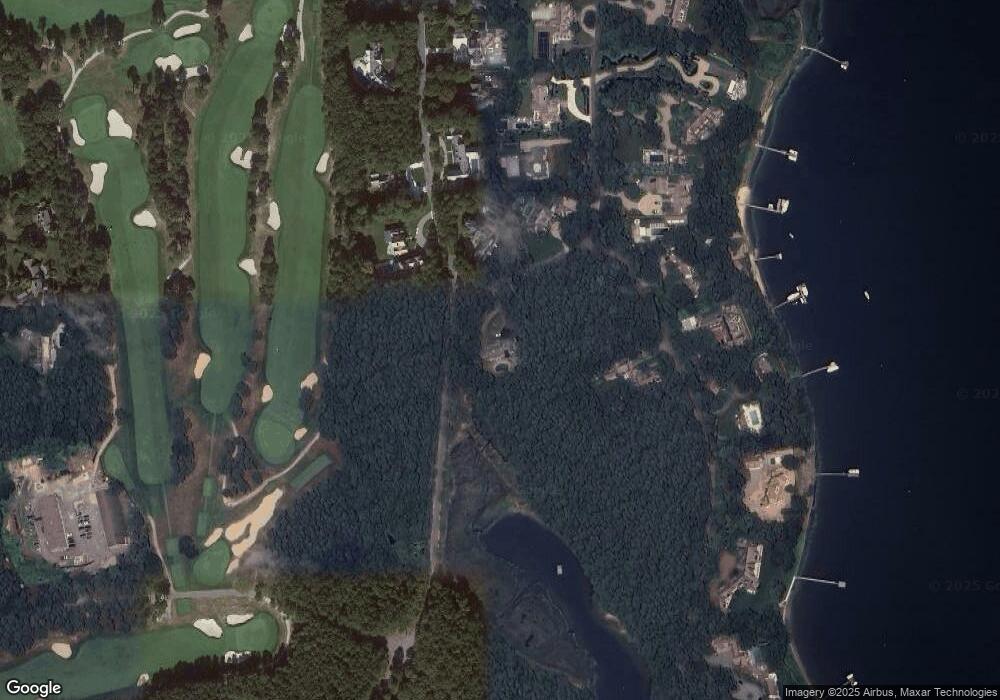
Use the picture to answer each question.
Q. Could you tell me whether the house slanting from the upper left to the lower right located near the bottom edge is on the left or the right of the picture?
right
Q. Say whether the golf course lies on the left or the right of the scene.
left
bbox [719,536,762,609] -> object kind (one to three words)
house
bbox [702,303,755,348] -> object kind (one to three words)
house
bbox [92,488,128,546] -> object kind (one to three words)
building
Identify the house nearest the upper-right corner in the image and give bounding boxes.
[728,72,752,100]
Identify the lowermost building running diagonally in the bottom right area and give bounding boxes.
[713,634,773,679]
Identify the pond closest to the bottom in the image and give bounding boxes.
[482,515,650,700]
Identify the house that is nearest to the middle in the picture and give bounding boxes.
[480,338,521,370]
